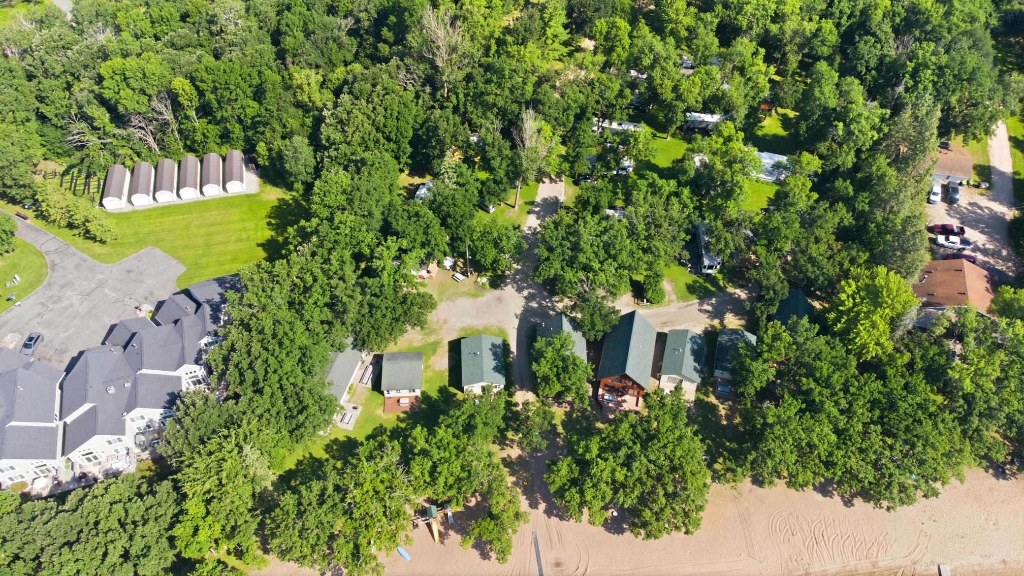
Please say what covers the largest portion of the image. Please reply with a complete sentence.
Most of the picture is covered by trees.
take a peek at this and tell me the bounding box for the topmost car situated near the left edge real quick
[18,330,48,357]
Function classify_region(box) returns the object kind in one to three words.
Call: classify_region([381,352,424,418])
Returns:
building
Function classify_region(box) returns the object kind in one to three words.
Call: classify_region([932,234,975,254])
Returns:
vehicle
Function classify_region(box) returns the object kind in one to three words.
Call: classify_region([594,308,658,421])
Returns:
house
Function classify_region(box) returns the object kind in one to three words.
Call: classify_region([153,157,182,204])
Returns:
shed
